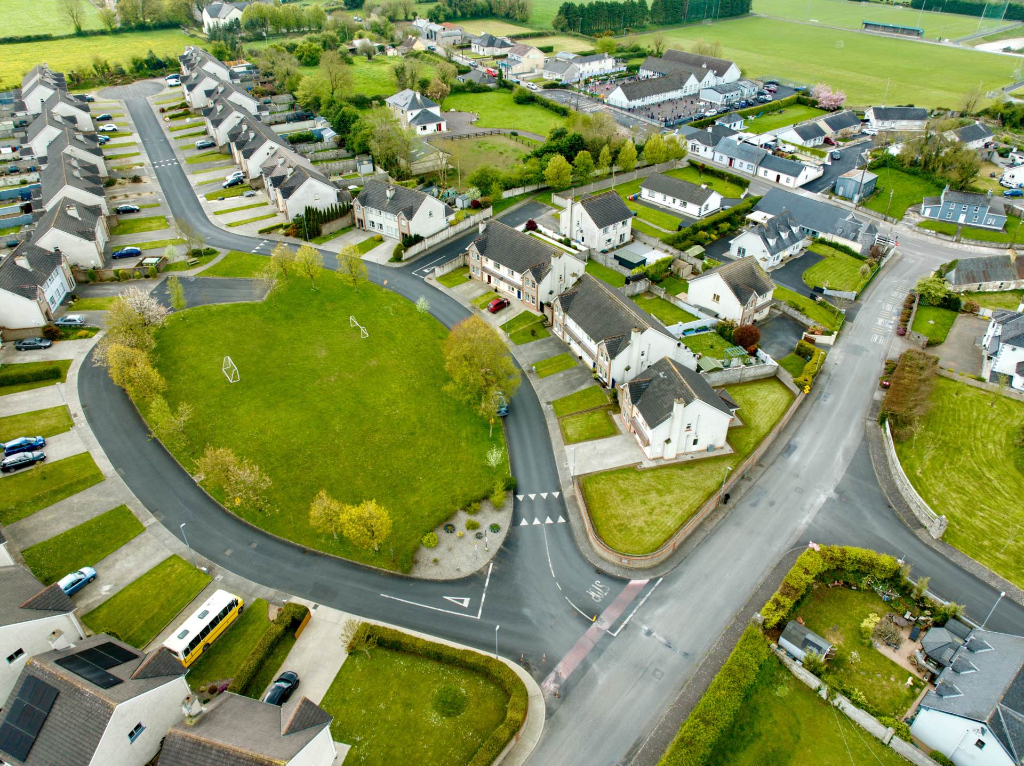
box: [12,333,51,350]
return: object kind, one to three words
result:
car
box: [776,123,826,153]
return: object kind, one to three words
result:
house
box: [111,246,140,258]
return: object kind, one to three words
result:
vehicle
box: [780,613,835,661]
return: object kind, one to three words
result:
shed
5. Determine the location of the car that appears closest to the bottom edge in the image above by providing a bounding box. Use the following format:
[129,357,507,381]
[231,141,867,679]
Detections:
[253,657,308,704]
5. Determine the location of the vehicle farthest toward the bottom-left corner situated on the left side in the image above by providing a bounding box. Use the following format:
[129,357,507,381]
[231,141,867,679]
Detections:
[48,561,102,596]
